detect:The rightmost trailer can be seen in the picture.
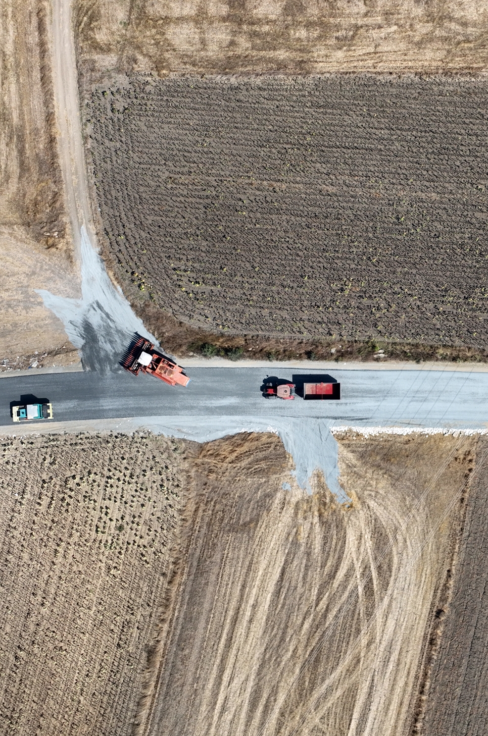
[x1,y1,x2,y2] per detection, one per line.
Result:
[296,382,340,402]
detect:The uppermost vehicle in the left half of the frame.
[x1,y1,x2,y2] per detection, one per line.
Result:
[124,338,191,387]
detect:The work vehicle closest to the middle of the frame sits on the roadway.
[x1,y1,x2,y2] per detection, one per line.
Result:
[263,384,298,402]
